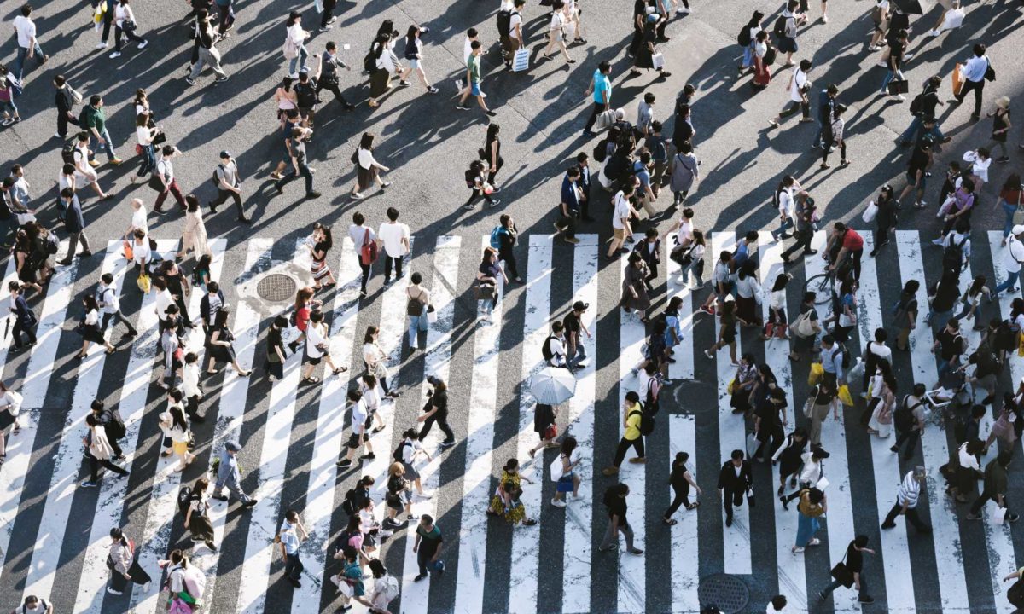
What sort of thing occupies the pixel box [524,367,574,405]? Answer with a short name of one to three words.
umbrella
